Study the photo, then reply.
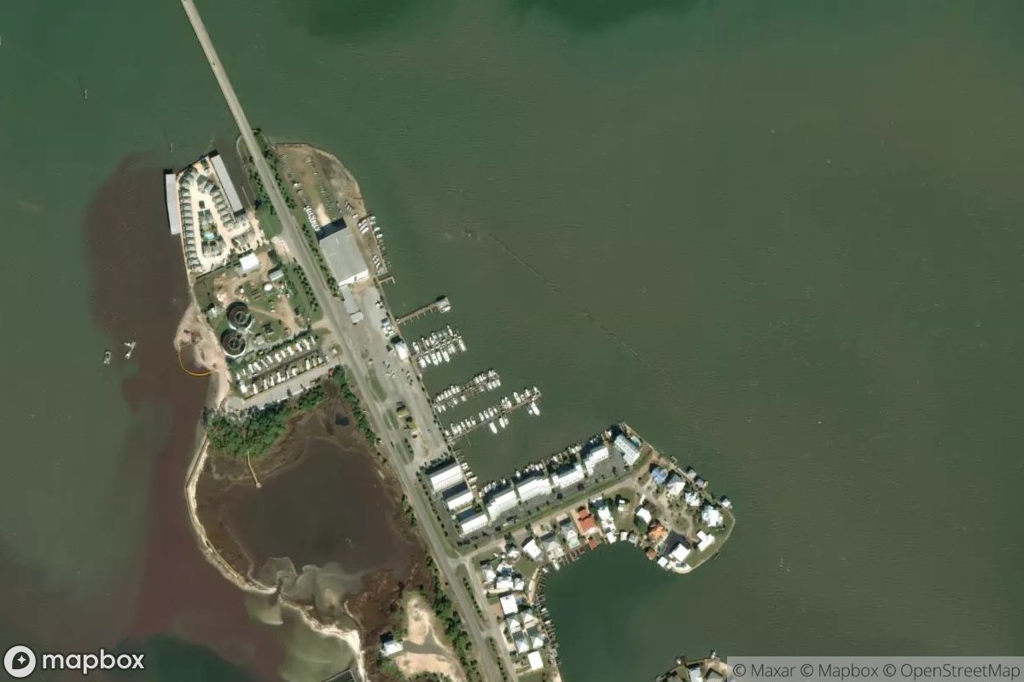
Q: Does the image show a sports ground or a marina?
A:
marina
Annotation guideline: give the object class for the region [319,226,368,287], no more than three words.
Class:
building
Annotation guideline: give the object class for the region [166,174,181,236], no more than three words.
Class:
building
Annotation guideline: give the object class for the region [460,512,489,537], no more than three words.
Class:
house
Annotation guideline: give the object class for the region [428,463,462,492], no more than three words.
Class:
house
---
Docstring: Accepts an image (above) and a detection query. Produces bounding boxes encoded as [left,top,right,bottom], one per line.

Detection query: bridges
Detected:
[181,0,272,182]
